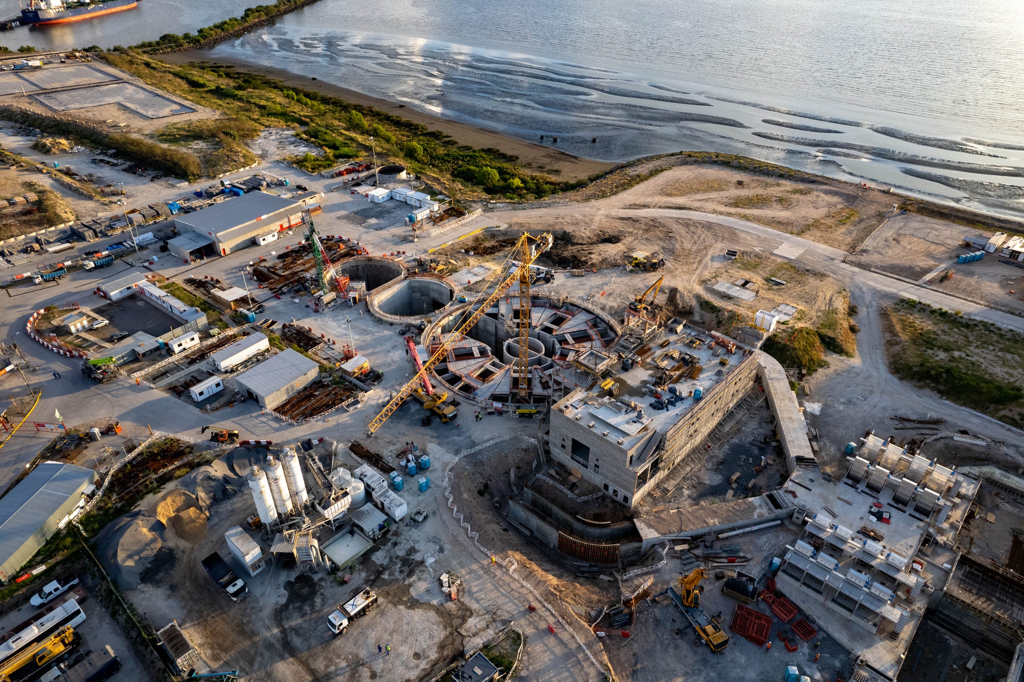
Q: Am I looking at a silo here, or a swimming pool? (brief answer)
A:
silo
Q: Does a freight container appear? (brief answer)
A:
Yes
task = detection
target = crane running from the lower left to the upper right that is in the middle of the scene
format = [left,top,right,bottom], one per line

[363,234,563,443]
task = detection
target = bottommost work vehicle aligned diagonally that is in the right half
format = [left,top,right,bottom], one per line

[626,275,664,317]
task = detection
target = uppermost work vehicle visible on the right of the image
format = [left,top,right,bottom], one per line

[637,258,667,273]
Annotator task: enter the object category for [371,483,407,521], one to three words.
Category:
shipping container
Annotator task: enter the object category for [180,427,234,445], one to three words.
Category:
work vehicle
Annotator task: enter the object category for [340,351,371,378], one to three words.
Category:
shed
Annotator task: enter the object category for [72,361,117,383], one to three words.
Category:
crane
